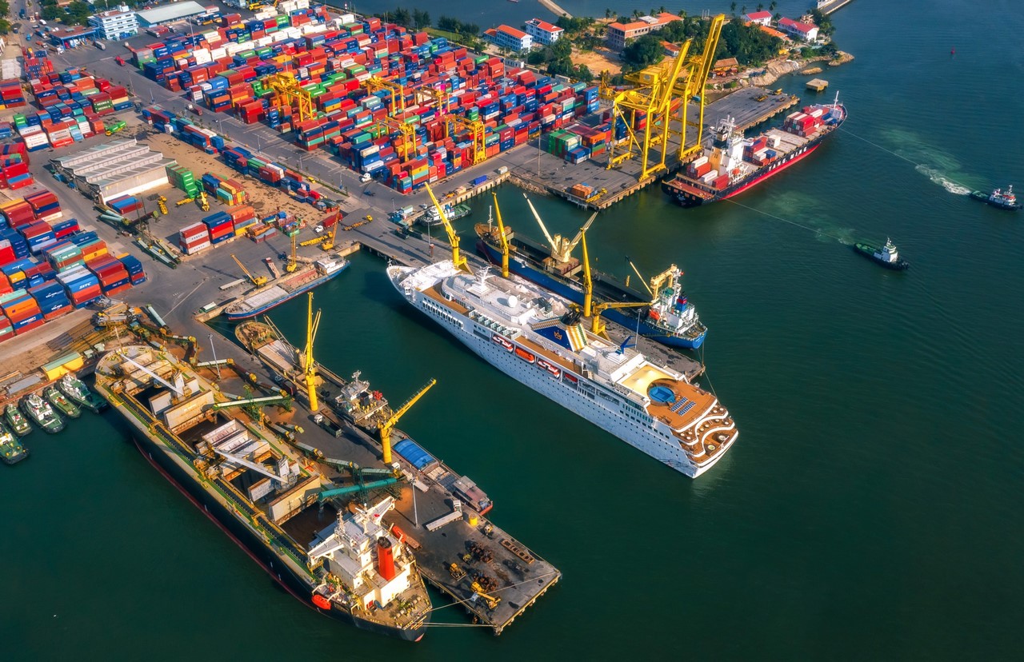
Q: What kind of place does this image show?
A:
port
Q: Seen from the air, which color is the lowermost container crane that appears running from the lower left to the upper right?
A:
yellow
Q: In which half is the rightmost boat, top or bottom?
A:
top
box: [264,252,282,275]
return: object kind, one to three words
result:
vehicle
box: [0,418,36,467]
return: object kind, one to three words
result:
boat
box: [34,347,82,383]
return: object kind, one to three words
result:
shed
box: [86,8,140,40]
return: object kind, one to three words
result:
building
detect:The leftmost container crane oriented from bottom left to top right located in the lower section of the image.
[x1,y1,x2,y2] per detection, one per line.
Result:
[375,377,439,466]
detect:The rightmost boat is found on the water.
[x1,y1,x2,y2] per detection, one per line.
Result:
[970,181,1024,209]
